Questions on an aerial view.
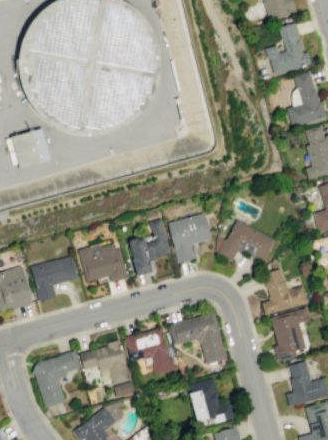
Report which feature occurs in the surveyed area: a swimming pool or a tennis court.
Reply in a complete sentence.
There is a swimming pool in the scene.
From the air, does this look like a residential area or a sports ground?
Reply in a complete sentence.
This looks like a residential area.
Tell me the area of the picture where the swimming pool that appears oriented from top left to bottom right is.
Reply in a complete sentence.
The swimming pool that appears oriented from top left to bottom right sits in the right section of the image.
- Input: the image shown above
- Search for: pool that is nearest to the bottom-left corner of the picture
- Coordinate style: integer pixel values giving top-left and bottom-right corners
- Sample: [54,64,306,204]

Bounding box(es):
[121,412,138,435]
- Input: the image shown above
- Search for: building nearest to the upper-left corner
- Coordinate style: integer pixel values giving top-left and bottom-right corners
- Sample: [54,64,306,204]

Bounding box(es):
[7,128,51,169]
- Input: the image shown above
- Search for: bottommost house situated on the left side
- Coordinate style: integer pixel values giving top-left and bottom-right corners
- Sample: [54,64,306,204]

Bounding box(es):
[73,400,124,440]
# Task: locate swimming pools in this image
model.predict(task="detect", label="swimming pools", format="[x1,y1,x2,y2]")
[121,412,138,435]
[237,199,260,220]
